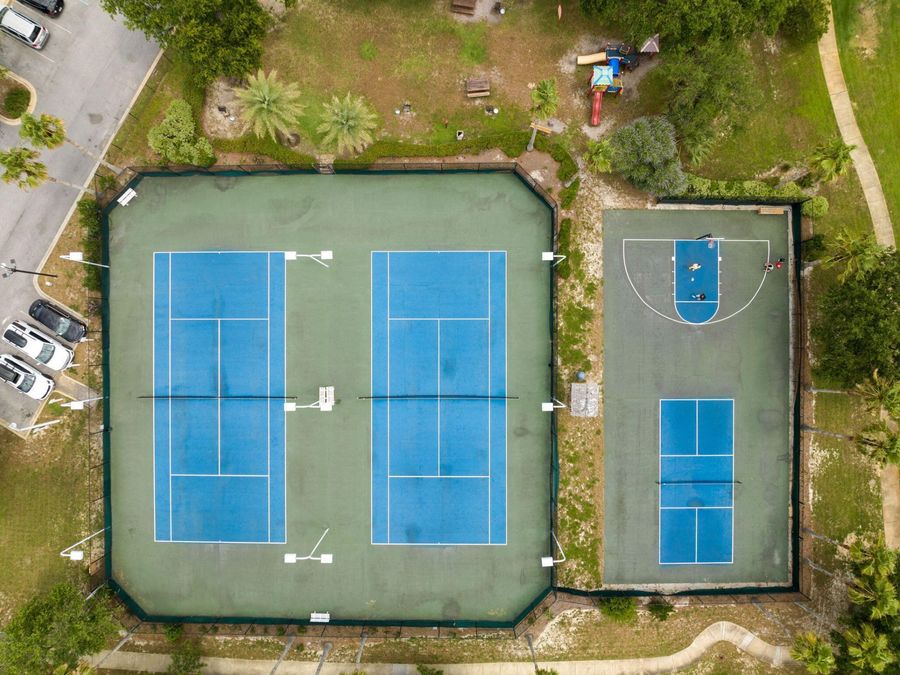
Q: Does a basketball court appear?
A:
Yes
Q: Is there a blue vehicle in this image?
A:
No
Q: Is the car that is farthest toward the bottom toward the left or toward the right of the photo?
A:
left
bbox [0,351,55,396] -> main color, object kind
white car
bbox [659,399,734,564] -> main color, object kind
blue sports court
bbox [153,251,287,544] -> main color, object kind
blue tennis court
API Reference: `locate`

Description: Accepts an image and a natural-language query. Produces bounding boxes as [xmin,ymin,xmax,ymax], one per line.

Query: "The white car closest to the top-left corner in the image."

[0,8,51,52]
